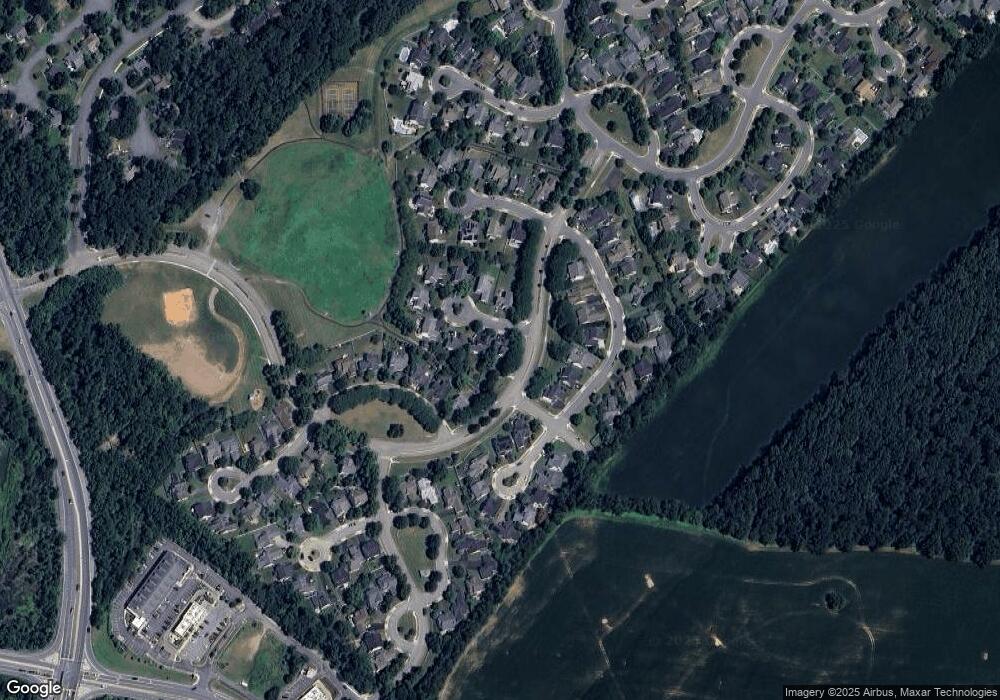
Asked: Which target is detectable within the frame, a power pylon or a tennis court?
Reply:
tennis court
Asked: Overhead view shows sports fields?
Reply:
Yes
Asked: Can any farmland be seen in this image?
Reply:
Yes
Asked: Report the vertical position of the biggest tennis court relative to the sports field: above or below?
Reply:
above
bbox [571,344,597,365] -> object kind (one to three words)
house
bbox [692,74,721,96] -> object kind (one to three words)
house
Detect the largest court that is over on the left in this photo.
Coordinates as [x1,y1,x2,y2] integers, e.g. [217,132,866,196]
[322,82,357,116]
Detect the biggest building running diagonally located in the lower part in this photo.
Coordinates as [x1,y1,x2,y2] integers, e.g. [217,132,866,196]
[125,550,190,624]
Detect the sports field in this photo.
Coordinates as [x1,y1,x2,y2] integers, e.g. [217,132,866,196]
[219,142,396,322]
